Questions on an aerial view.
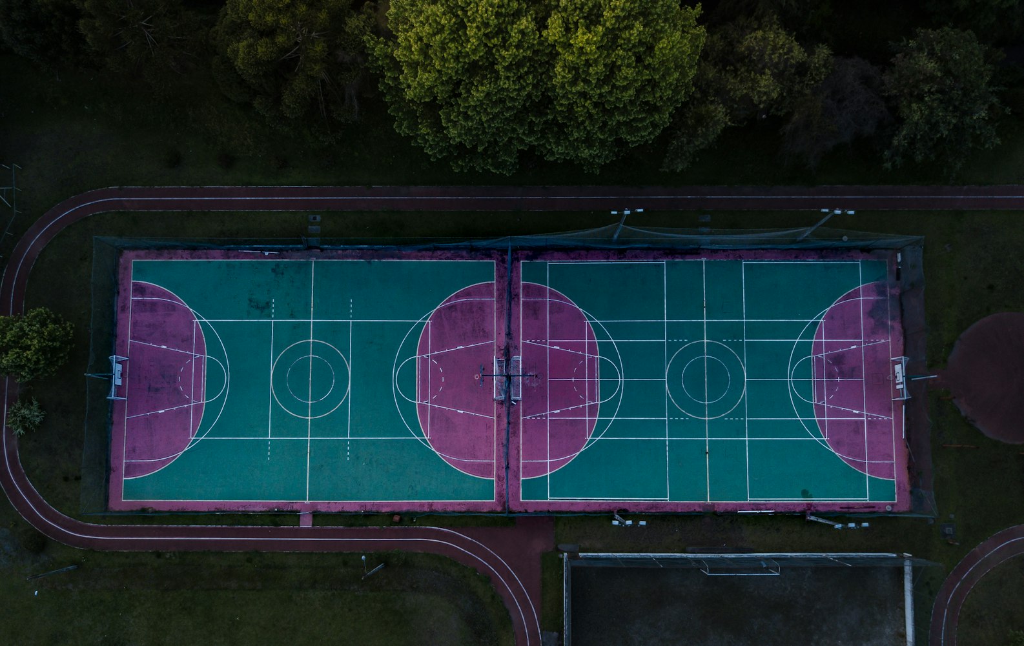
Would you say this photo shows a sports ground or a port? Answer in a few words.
sports ground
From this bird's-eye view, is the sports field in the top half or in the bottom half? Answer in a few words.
bottom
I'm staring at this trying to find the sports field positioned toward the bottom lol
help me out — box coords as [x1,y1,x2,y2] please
[567,555,907,646]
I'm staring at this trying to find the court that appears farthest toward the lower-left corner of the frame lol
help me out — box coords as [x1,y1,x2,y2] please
[107,249,509,512]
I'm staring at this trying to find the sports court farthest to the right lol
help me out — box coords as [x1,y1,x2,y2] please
[509,249,911,512]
